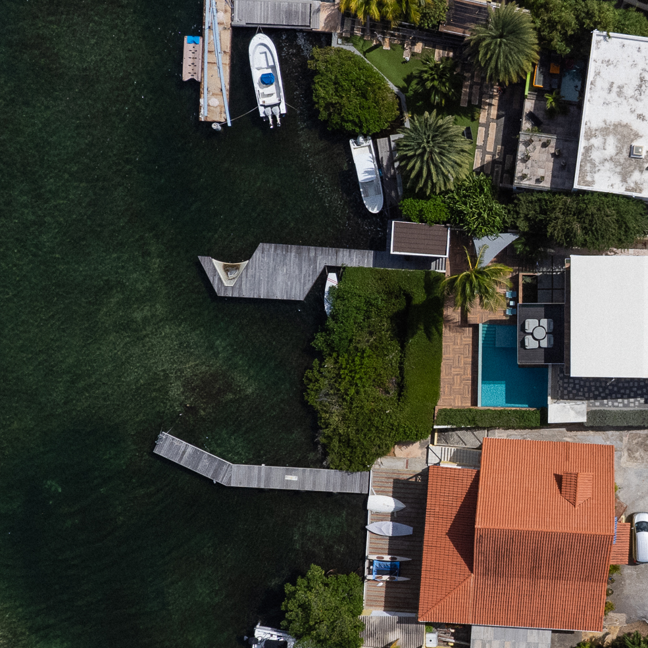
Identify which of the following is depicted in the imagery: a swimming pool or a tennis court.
swimming pool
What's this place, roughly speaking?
residential area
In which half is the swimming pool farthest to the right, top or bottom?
top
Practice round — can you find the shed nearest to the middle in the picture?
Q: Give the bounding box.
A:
[389,220,451,259]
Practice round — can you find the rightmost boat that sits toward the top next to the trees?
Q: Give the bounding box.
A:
[348,127,381,212]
